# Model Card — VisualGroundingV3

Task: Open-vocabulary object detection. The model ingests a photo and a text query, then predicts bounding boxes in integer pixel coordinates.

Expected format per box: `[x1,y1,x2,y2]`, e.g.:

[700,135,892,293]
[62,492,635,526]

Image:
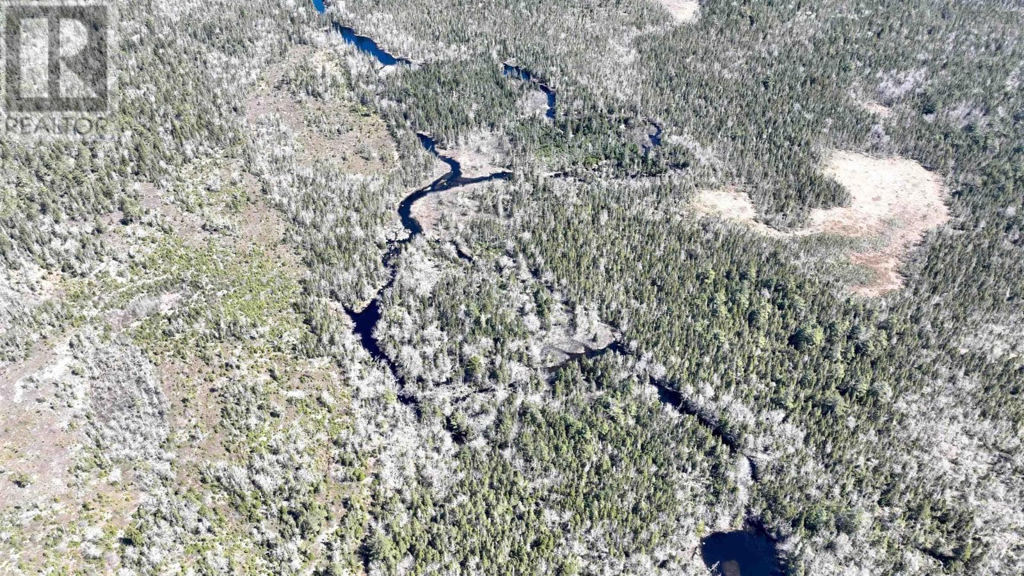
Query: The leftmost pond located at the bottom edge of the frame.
[700,521,789,576]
